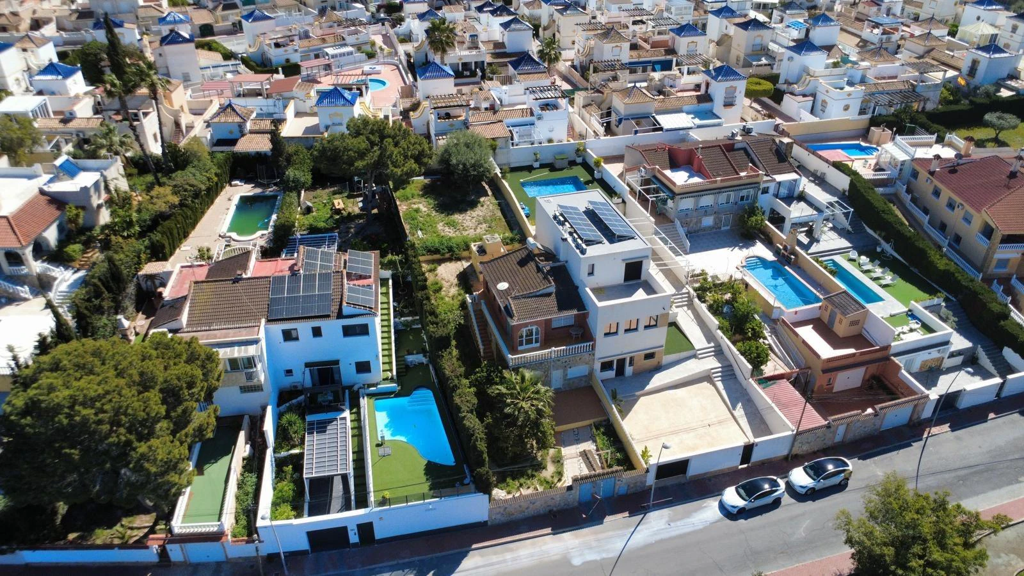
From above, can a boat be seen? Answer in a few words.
No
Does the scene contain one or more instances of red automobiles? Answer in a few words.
No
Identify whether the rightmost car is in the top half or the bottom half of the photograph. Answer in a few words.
bottom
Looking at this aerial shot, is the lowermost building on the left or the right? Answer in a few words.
left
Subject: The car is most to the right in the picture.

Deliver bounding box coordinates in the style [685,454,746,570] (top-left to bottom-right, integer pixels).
[789,455,856,494]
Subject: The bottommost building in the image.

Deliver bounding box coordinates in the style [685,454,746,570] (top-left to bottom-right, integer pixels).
[118,464,263,563]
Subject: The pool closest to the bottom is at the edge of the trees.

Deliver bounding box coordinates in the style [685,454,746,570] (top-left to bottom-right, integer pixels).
[375,387,455,465]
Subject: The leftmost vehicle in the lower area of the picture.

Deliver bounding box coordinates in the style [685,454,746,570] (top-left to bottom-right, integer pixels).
[720,475,788,516]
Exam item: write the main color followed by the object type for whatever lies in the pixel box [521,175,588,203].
blue swimming pool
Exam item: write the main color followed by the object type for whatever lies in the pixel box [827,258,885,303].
blue swimming pool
